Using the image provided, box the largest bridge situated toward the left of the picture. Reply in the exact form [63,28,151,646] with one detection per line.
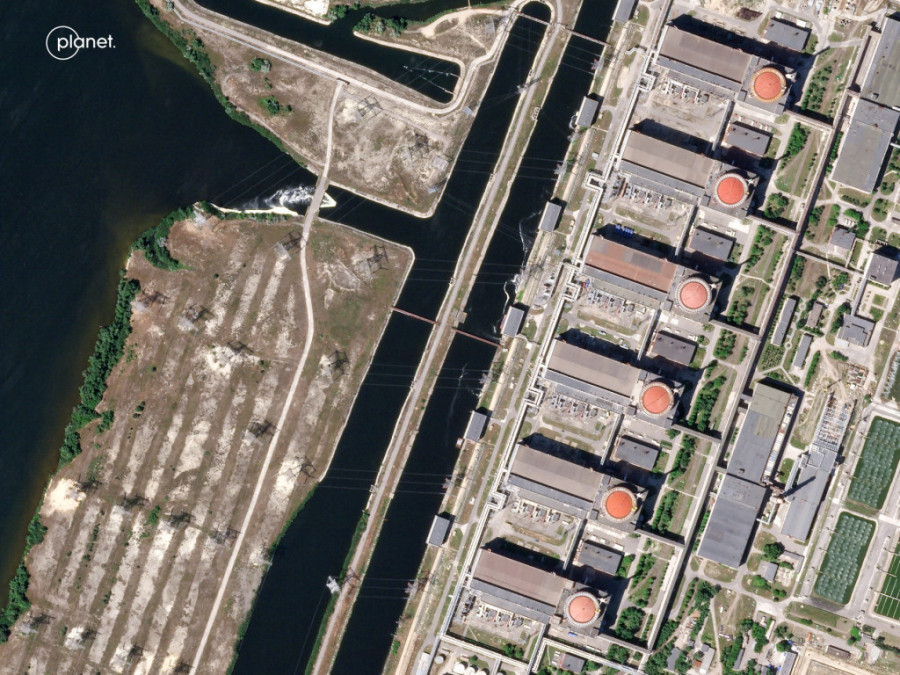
[301,173,328,234]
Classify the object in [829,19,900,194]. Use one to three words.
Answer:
building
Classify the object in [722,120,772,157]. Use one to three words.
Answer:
building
